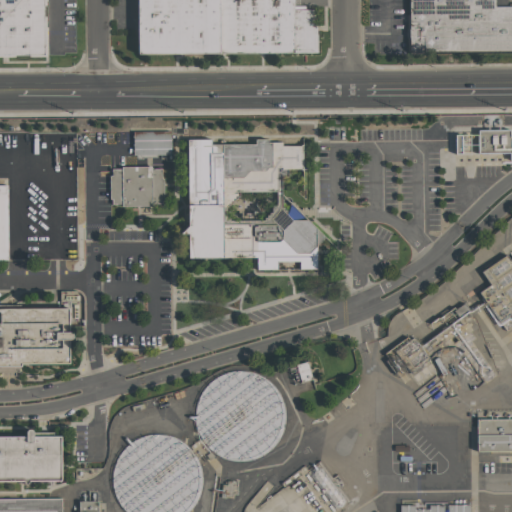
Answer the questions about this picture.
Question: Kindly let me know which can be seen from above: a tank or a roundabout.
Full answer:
It is a tank that can be seen here.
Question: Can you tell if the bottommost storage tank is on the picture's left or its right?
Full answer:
The bottommost storage tank is on the left side of the image.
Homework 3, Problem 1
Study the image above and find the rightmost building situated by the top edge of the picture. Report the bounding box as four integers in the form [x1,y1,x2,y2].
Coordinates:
[411,0,512,52]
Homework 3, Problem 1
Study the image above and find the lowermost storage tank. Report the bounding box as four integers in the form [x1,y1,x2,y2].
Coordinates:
[111,432,206,512]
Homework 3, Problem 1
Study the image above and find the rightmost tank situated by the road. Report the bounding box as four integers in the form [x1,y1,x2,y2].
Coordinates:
[193,369,287,463]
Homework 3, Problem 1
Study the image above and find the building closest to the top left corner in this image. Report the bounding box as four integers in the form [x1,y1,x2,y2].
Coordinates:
[0,0,48,58]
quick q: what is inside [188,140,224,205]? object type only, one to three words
building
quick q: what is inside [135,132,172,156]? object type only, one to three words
shed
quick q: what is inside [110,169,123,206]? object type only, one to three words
building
